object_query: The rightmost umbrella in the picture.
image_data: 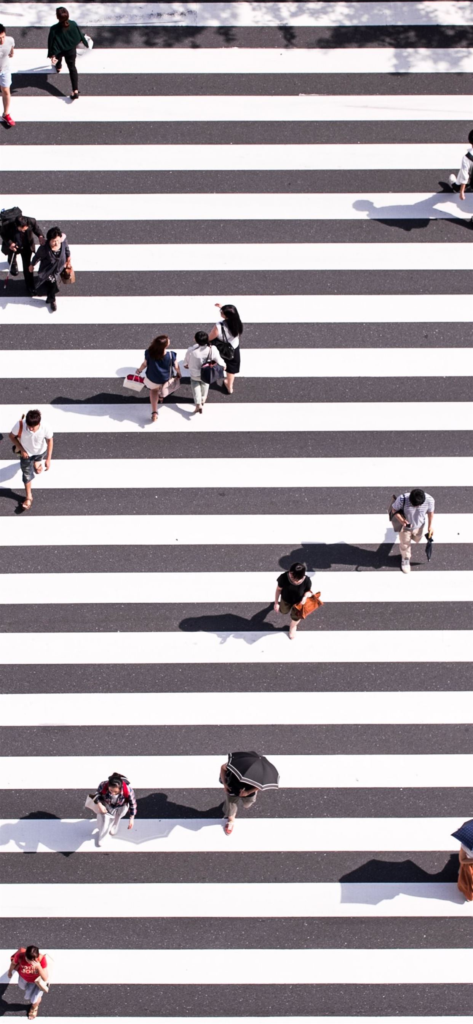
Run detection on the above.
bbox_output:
[451,819,473,850]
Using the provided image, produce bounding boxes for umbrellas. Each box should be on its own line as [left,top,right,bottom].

[451,819,473,850]
[226,746,283,800]
[425,528,434,560]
